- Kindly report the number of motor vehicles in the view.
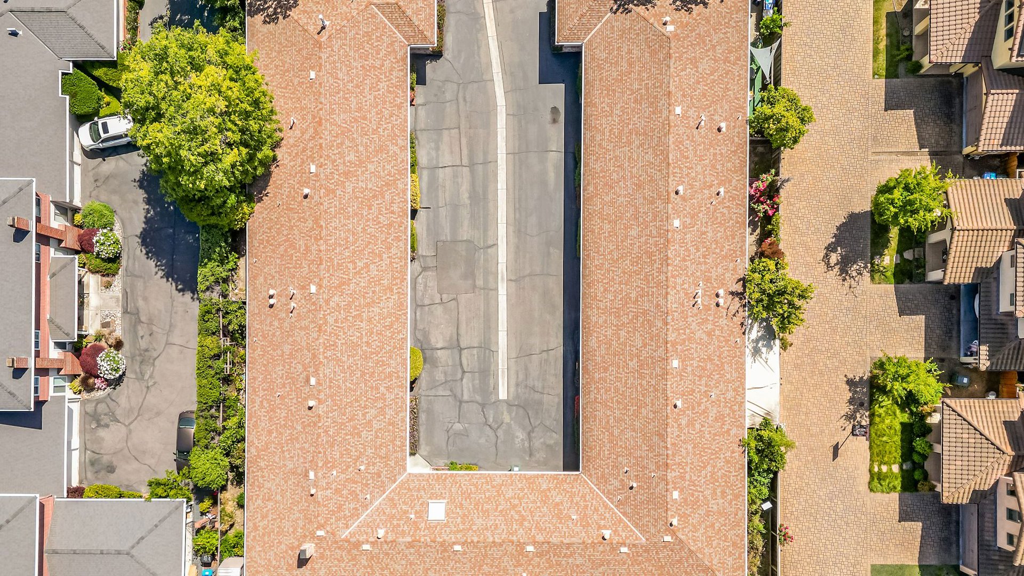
two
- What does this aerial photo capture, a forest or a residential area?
residential area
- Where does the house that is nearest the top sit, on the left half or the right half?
right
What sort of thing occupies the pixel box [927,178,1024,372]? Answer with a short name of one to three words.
house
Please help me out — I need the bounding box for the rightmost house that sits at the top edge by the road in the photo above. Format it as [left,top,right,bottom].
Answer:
[913,0,1024,155]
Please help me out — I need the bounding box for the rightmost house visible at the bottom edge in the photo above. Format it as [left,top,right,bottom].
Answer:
[923,399,1024,576]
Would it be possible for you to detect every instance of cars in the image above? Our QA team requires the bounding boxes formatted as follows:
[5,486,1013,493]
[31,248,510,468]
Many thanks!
[170,410,198,471]
[79,114,138,150]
